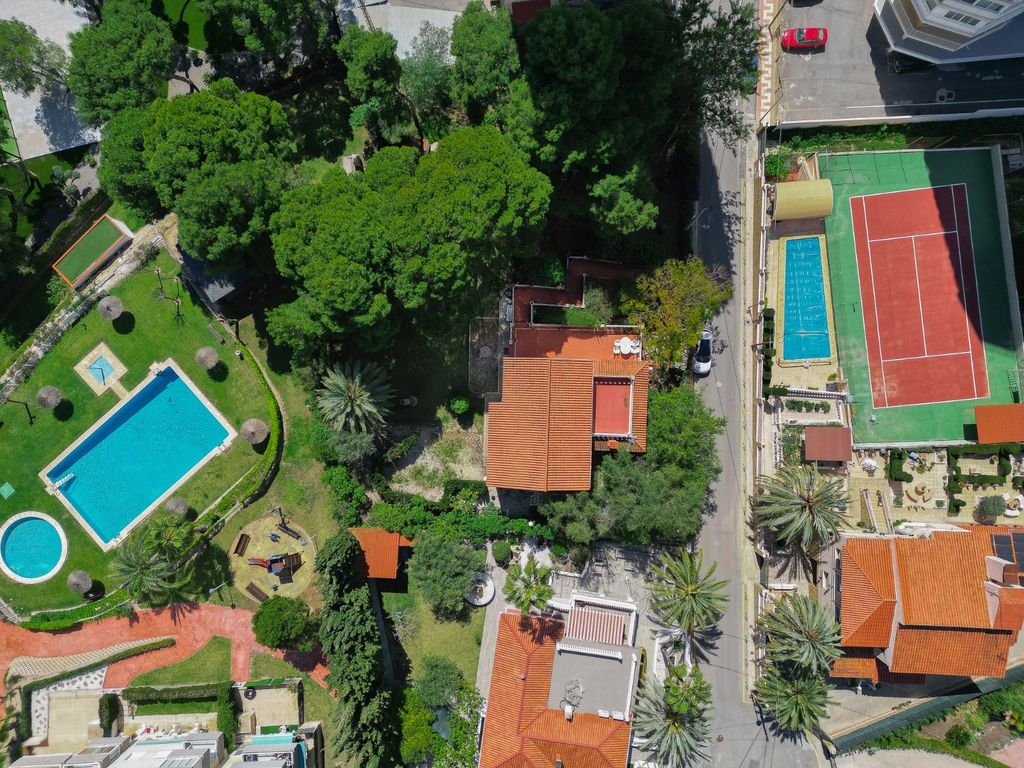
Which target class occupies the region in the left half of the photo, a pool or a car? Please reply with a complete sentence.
Looking in the left half of the photo, you will find a pool.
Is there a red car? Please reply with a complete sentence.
Yes, the frame does contain a red car.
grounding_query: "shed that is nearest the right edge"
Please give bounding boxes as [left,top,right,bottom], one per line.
[960,404,1024,444]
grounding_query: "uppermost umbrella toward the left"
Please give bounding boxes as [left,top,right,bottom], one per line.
[99,296,125,322]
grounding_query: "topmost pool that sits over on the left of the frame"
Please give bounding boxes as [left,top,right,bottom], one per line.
[73,342,129,399]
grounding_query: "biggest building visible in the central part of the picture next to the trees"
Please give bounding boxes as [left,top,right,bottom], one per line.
[486,357,650,492]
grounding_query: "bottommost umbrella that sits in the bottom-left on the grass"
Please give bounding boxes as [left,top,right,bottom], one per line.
[69,568,94,593]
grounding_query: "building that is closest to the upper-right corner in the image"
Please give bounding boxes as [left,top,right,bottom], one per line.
[868,0,1024,66]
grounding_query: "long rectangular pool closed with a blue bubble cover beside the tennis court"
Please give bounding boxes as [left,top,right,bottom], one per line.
[776,233,837,367]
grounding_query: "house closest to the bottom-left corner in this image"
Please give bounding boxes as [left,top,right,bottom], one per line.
[18,727,98,768]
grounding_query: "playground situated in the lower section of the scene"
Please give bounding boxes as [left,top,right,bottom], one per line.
[229,517,316,604]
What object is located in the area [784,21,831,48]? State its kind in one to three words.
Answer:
car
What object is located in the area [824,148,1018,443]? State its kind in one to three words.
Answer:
tennis court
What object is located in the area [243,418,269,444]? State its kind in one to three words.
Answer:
umbrella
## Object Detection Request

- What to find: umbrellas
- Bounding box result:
[99,296,125,322]
[243,418,269,444]
[165,494,190,518]
[195,345,221,370]
[69,568,94,593]
[38,384,63,410]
